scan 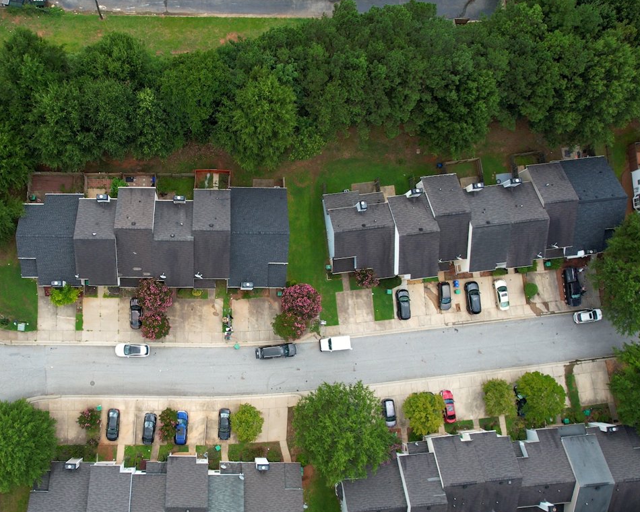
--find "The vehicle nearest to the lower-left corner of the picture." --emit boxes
[105,407,121,442]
